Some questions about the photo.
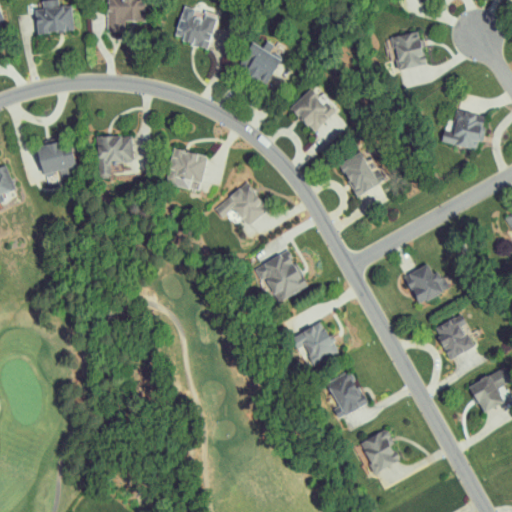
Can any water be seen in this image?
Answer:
No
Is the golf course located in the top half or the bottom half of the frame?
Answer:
bottom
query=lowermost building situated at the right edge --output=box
[469,372,512,414]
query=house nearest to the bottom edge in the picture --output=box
[360,429,401,477]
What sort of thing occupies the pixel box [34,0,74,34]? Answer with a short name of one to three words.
house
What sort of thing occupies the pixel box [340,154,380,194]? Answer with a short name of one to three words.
house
